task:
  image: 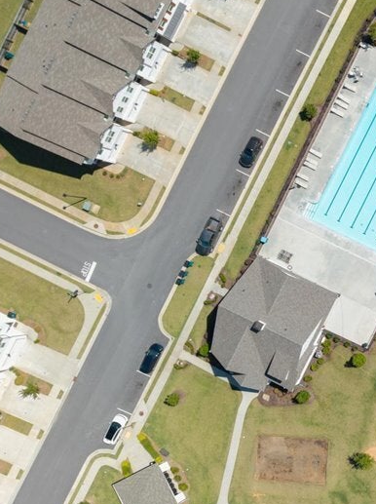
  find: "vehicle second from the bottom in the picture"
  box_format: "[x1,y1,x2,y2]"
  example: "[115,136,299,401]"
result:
[137,342,166,375]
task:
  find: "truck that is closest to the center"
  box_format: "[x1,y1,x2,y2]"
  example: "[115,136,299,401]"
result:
[197,218,223,255]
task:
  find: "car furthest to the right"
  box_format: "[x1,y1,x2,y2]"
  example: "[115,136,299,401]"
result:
[240,136,264,168]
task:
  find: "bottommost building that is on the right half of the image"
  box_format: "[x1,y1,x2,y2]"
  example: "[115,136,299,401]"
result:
[202,255,336,392]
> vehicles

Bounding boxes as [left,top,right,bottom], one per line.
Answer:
[240,136,264,168]
[137,342,166,375]
[197,218,223,255]
[103,414,129,445]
